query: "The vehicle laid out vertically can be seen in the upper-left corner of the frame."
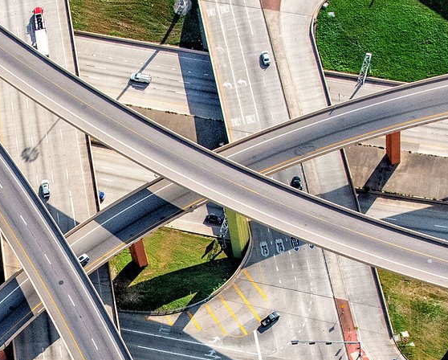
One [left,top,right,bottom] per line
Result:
[34,14,51,54]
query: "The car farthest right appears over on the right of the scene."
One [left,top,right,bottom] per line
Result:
[290,173,303,191]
